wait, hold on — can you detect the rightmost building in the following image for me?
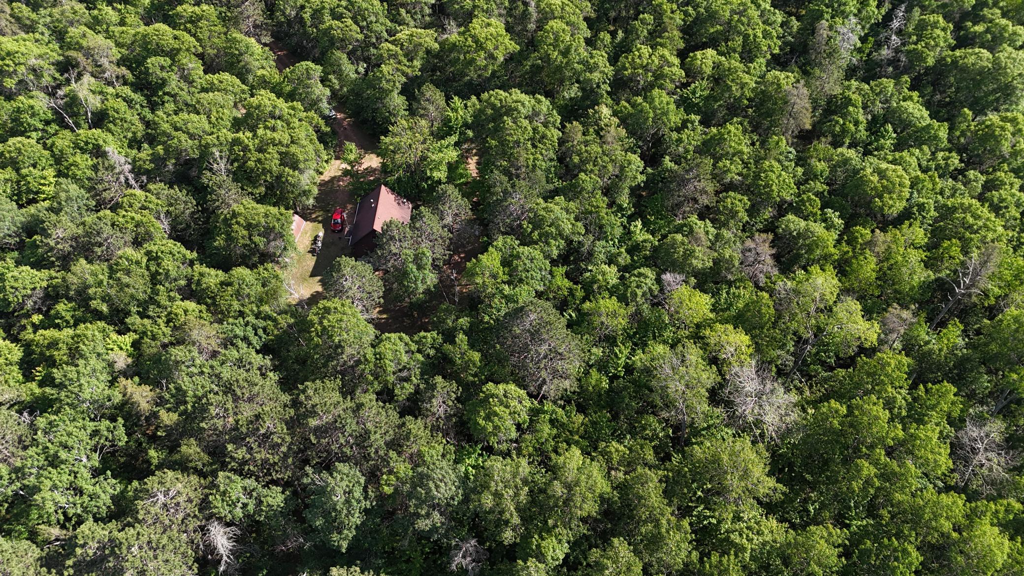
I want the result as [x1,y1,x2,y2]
[341,185,414,254]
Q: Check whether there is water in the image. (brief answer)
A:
No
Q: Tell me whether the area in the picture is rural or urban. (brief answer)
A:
rural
